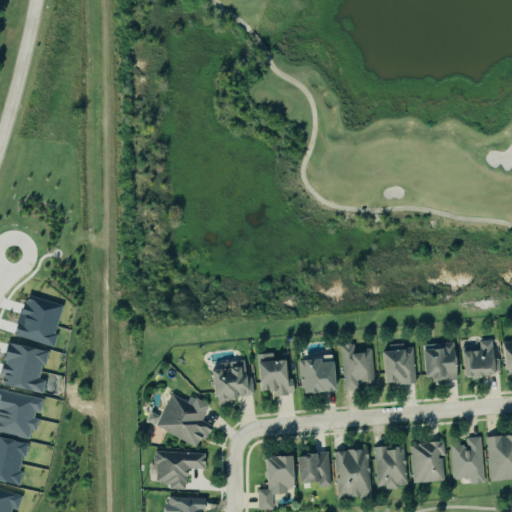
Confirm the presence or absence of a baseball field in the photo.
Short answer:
No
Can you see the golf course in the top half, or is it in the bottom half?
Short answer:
top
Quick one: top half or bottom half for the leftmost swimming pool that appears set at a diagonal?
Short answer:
bottom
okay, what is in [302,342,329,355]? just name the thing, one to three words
swimming pool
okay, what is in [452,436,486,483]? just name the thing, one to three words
house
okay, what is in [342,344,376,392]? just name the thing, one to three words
house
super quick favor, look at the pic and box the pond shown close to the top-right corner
[339,0,512,82]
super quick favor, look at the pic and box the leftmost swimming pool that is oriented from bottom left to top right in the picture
[143,387,172,415]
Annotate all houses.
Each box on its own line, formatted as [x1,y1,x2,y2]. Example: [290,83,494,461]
[464,339,503,380]
[374,446,408,489]
[154,452,206,490]
[0,388,44,439]
[14,297,64,352]
[412,441,446,483]
[452,436,486,483]
[342,344,376,392]
[384,343,417,384]
[300,450,334,489]
[214,356,256,404]
[336,449,373,500]
[164,498,207,512]
[488,434,512,482]
[0,490,24,512]
[0,344,46,394]
[262,456,297,510]
[146,394,214,448]
[0,436,30,487]
[300,354,338,396]
[426,340,459,382]
[258,352,296,392]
